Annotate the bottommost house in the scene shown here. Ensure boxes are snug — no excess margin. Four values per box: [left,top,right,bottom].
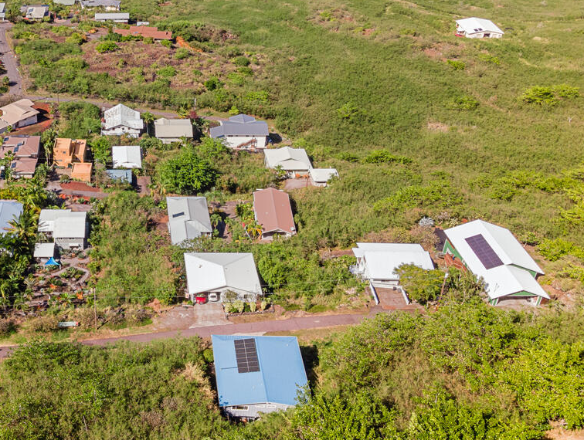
[210,331,314,415]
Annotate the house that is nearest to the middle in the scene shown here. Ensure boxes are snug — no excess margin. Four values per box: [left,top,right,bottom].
[253,187,298,241]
